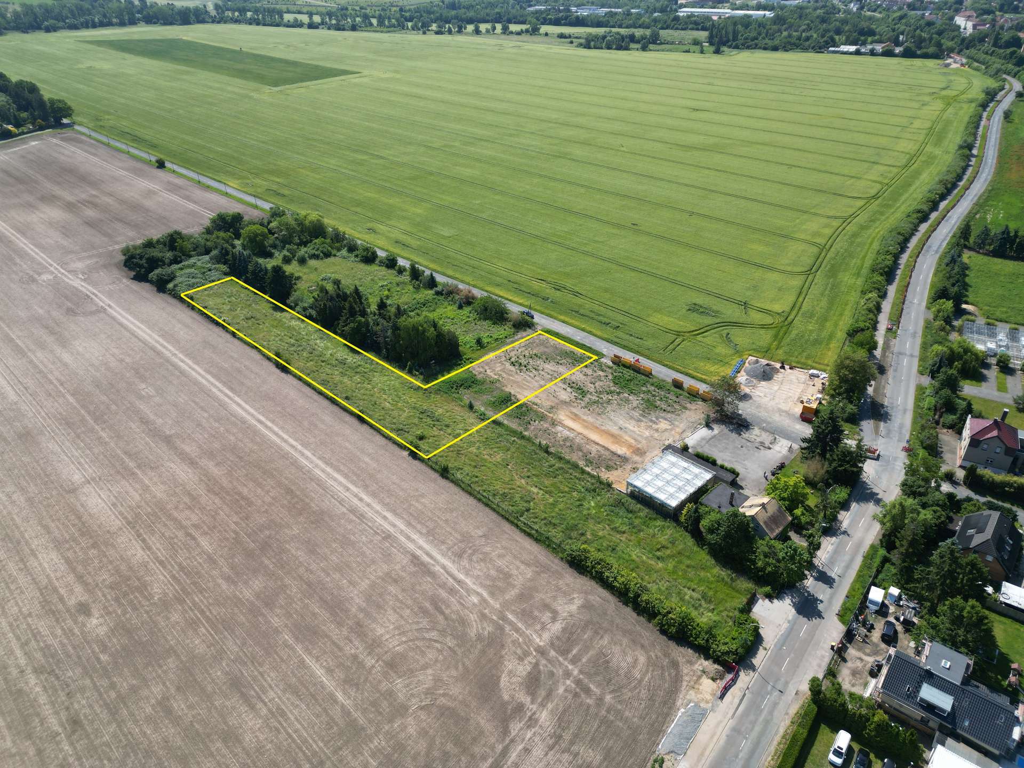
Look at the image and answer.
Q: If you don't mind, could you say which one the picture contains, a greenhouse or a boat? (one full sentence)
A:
There is a greenhouse in the scene.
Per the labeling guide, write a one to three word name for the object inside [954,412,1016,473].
house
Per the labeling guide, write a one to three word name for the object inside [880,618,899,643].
car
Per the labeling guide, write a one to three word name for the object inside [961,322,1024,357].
greenhouse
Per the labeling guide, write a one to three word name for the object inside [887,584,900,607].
vehicle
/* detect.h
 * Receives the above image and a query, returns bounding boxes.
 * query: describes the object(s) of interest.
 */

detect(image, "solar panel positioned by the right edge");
[964,515,993,546]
